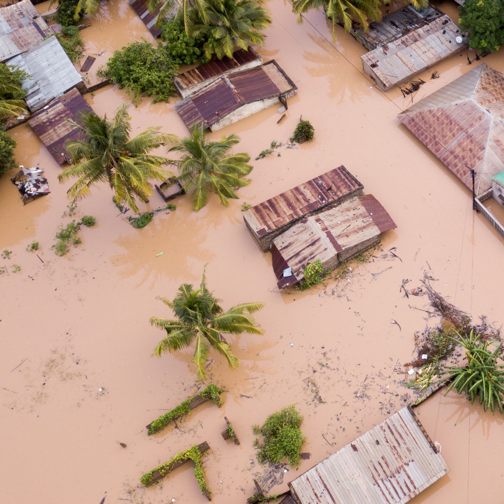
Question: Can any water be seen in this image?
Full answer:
Yes, water shows up in the scene.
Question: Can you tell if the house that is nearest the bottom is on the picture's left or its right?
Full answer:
The house that is nearest the bottom appears in the right half of the scene.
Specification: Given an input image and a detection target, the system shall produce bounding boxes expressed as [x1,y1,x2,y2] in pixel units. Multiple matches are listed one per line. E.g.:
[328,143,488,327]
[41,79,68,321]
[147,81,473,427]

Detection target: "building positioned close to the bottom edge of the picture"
[288,404,451,504]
